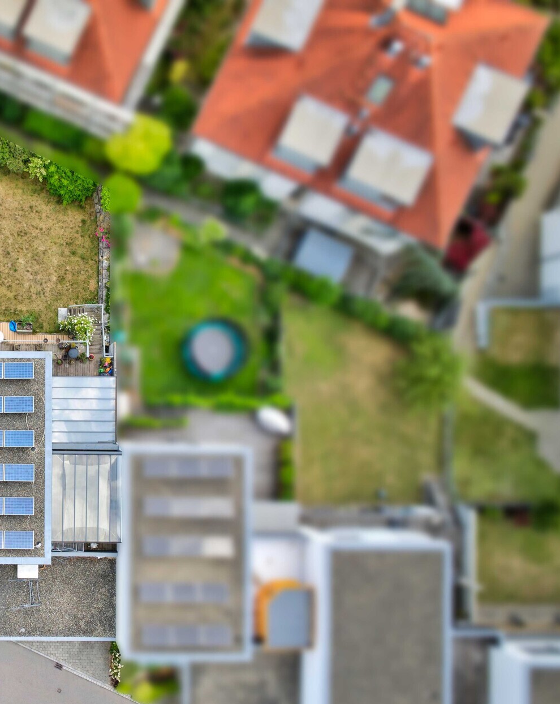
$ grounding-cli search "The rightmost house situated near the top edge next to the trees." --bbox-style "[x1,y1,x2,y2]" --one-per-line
[191,0,548,252]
